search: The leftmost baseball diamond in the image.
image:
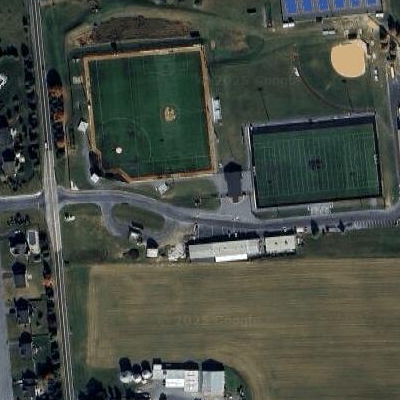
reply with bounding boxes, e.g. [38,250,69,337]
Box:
[82,45,216,184]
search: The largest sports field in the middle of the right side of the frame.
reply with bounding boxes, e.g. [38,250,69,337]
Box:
[248,112,382,211]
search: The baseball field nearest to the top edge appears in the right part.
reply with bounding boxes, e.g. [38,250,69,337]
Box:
[294,40,374,113]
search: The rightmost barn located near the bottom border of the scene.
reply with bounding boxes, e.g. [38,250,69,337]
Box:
[201,370,225,395]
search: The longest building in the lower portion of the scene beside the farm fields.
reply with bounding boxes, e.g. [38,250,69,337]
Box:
[187,239,260,259]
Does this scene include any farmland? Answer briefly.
Yes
